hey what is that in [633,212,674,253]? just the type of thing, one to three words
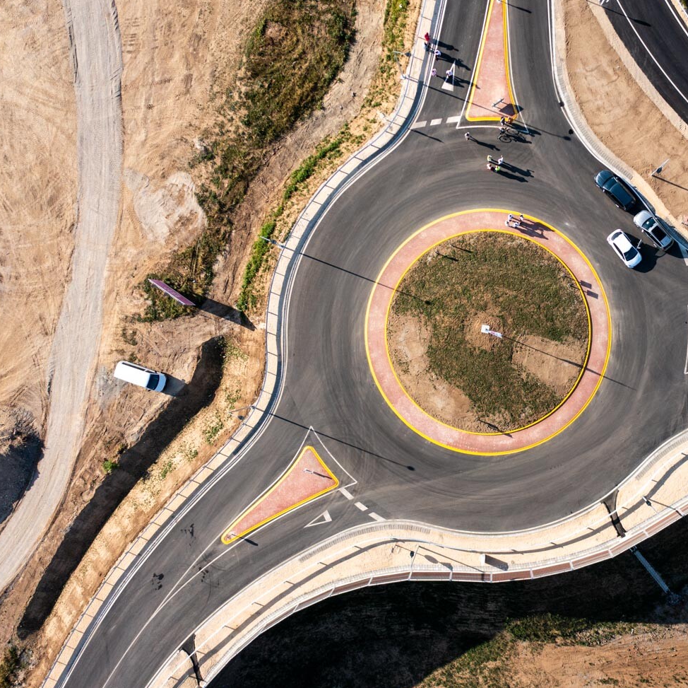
car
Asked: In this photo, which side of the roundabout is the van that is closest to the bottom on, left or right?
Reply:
left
